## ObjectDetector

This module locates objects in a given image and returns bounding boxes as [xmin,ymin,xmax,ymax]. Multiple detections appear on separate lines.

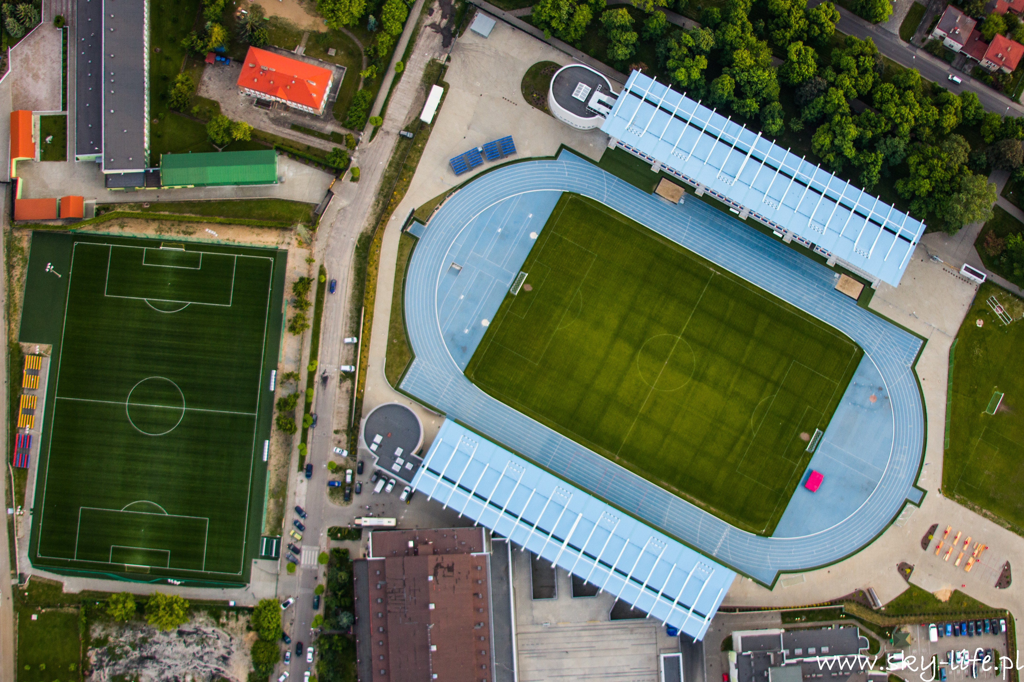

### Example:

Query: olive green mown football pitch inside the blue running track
[464,191,866,538]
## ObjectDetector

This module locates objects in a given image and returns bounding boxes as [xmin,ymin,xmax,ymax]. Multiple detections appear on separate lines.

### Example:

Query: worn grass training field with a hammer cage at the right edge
[943,284,1024,537]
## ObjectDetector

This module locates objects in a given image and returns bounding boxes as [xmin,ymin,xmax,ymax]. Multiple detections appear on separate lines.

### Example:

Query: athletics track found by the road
[393,143,931,593]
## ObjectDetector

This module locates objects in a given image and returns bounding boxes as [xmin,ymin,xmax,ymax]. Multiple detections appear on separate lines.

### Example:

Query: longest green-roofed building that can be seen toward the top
[162,150,278,187]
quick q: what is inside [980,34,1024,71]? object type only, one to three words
house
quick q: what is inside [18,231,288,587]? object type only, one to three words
soccer field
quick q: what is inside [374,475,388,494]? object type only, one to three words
vehicle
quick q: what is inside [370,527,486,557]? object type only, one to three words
building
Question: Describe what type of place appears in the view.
sports ground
